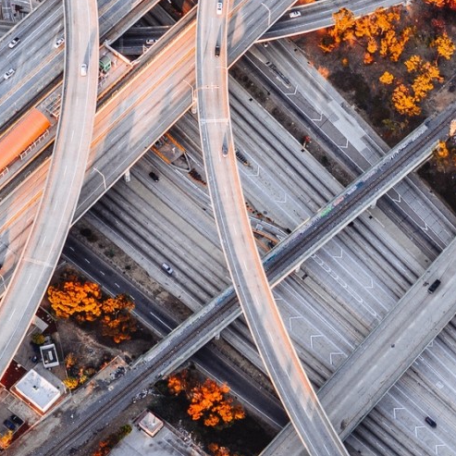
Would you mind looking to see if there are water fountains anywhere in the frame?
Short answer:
No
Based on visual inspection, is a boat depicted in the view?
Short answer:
No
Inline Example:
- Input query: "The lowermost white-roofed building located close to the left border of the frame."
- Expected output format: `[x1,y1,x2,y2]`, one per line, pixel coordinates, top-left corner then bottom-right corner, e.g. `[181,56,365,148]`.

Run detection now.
[14,369,61,417]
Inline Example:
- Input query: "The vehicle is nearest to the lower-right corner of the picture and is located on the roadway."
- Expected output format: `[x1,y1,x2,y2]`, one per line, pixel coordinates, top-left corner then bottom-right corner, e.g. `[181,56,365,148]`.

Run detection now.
[425,415,439,429]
